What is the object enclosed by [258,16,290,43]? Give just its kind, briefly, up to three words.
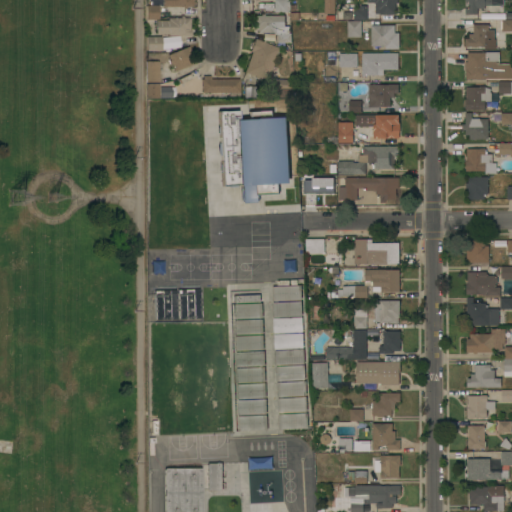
house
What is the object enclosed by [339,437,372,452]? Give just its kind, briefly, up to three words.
building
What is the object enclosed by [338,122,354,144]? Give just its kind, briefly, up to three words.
building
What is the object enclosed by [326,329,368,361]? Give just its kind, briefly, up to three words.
house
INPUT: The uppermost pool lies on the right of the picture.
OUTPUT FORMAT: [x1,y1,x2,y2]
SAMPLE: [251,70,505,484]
[350,84,369,98]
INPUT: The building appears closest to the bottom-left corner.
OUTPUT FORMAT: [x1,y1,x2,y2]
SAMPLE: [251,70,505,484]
[164,468,204,512]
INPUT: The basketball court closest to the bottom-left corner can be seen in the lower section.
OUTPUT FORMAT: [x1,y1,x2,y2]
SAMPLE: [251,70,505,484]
[170,435,198,460]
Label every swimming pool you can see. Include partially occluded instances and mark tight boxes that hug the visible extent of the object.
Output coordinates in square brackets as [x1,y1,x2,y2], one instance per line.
[314,332,330,354]
[504,280,512,294]
[329,374,342,383]
[336,427,356,436]
[344,270,364,281]
[350,84,369,98]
